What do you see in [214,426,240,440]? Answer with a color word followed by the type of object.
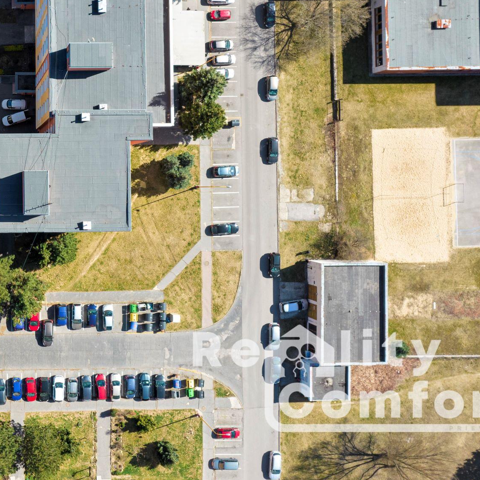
red car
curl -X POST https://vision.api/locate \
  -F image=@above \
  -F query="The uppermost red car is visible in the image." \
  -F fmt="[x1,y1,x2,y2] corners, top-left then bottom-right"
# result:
[208,8,232,22]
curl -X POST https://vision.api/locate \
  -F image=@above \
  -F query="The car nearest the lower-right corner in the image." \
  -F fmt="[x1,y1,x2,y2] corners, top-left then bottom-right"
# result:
[267,451,283,479]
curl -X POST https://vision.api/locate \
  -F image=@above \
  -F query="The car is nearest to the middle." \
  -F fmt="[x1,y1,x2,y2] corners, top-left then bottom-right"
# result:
[211,223,238,235]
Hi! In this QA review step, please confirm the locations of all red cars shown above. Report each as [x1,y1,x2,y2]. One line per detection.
[25,377,36,401]
[208,8,232,22]
[94,372,108,400]
[214,426,240,440]
[28,309,41,334]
